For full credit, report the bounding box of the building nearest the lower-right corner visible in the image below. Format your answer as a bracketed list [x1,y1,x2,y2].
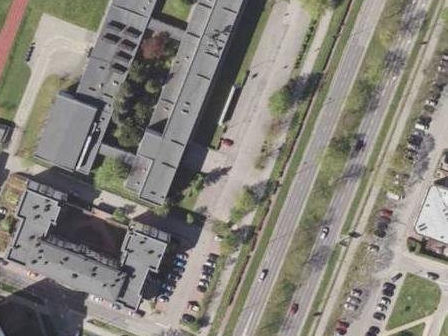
[411,181,448,247]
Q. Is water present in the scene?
No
